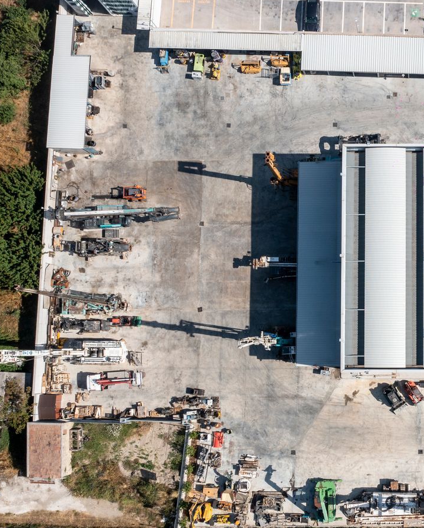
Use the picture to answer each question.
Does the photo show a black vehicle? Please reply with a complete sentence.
Yes, a black vehicle can be made out from above.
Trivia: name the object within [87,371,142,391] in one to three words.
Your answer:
vehicle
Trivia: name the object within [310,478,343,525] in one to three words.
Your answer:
work vehicle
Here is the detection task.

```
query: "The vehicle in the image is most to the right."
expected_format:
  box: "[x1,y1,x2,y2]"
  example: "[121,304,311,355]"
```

[403,382,424,408]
